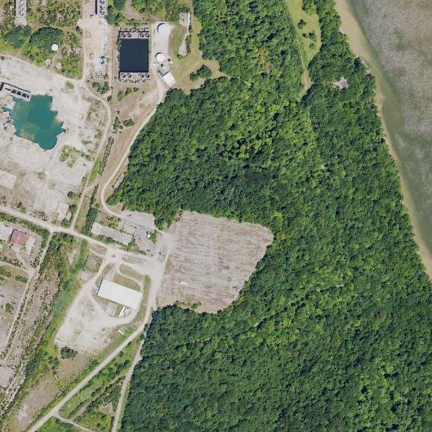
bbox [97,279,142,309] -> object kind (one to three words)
building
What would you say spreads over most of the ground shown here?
trees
